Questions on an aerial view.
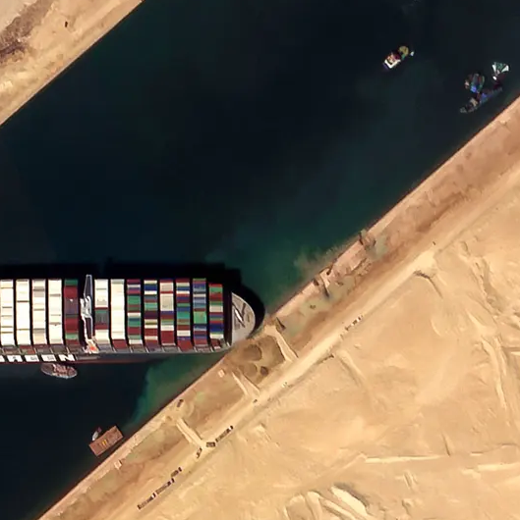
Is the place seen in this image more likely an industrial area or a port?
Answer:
port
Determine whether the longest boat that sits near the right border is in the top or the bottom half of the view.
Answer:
top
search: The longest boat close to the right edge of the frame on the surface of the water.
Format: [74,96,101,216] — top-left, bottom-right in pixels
[459,84,505,113]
